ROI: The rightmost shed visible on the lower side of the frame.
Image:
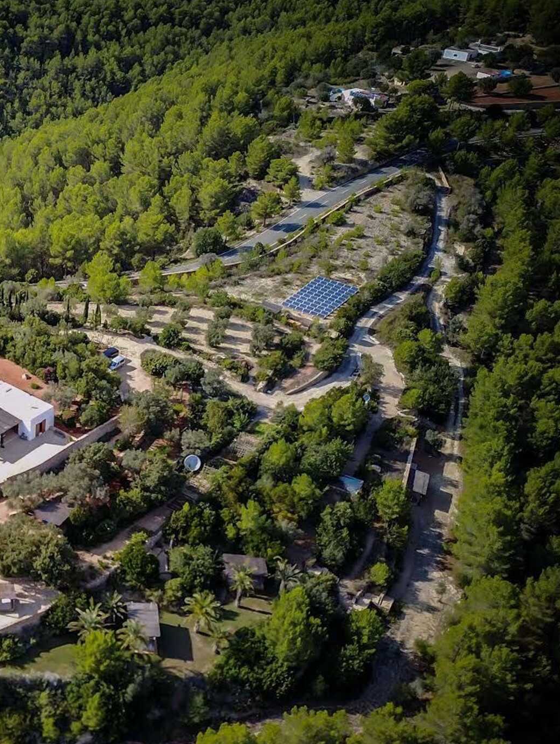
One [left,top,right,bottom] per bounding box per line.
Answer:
[411,471,430,504]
